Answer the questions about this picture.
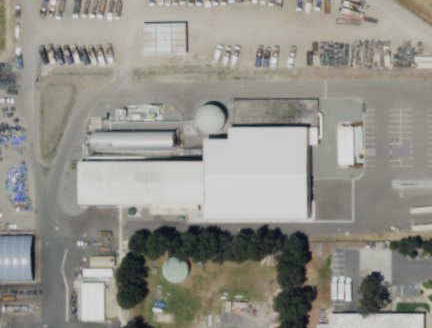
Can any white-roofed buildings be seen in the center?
Yes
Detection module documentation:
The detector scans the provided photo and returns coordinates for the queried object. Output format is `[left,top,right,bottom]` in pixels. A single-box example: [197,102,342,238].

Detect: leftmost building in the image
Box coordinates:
[0,236,32,280]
